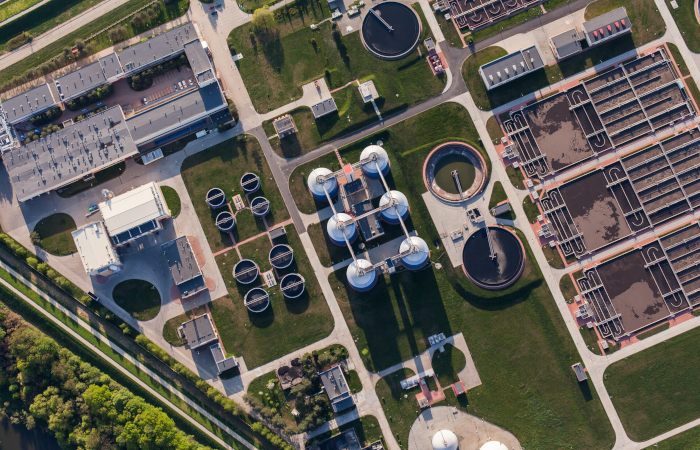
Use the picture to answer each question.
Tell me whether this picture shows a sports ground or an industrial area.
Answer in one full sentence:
The area seen from above is an industrial area.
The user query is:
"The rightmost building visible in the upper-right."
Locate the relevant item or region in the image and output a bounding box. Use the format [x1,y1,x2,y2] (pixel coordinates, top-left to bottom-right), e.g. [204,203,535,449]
[580,7,632,47]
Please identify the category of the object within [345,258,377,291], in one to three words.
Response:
storage tank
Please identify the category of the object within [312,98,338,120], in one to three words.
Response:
building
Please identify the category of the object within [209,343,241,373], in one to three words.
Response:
building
